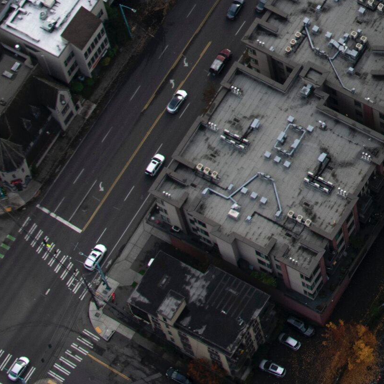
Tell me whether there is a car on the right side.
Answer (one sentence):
Yes, a car appears on the right side.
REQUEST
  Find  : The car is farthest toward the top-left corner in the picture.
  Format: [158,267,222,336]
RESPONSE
[167,89,188,115]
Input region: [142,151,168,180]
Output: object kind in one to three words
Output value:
car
